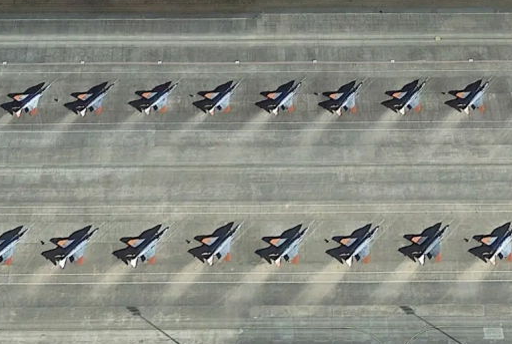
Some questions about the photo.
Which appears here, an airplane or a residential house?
airplane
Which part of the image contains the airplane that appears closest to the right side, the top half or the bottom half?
bottom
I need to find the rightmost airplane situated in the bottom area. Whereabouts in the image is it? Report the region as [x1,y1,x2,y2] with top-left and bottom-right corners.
[481,230,512,267]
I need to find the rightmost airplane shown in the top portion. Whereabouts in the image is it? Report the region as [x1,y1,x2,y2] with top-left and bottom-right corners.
[455,81,490,116]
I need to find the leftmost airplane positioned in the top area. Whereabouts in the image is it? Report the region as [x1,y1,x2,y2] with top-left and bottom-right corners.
[7,84,49,120]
